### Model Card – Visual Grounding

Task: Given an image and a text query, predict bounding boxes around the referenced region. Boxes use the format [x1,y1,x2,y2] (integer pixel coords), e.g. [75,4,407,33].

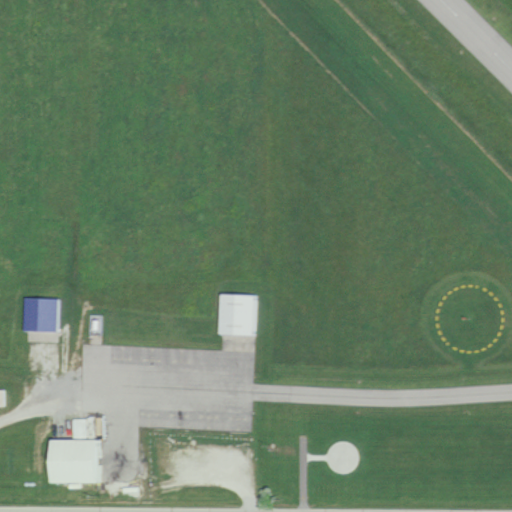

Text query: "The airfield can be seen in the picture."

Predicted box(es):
[82,345,512,480]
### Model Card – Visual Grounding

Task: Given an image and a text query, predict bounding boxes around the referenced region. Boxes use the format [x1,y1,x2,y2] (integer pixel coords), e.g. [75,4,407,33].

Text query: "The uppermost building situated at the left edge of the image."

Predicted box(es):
[23,297,61,332]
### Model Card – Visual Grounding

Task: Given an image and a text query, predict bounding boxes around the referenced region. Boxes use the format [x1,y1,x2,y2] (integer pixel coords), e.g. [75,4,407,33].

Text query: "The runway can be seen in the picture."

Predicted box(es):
[420,0,512,92]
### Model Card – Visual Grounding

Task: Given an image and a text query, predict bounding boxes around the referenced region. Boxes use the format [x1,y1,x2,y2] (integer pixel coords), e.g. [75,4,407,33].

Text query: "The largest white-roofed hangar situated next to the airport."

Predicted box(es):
[46,440,104,484]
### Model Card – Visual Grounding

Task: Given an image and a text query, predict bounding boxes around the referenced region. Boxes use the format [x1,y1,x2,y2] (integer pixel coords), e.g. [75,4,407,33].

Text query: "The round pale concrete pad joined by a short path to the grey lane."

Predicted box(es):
[308,440,360,474]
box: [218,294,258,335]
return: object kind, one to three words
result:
hangar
